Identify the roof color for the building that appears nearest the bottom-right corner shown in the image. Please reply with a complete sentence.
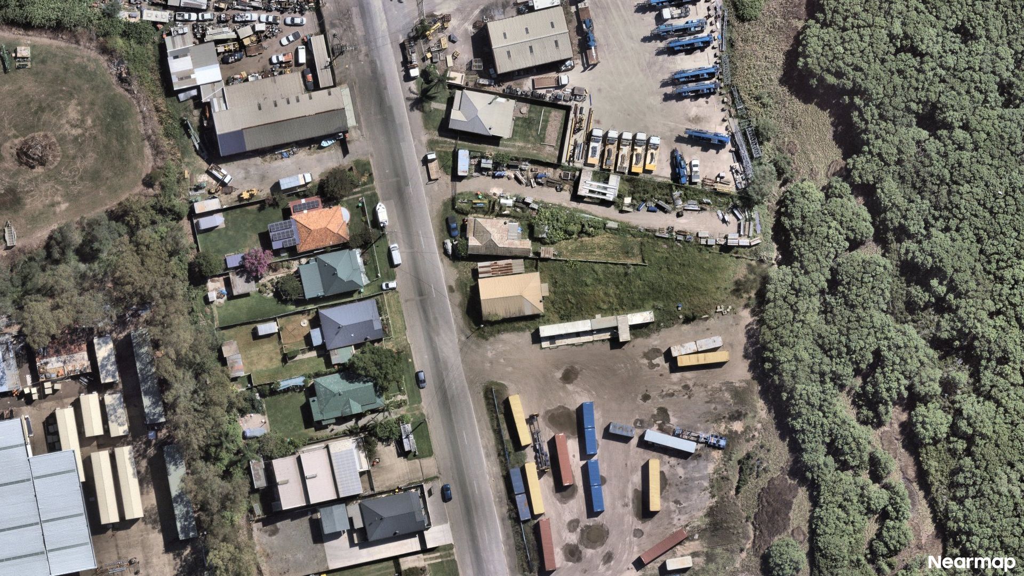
The roof over the building that appears nearest the bottom-right corner appears white.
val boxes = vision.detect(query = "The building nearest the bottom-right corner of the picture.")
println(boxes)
[539,314,631,349]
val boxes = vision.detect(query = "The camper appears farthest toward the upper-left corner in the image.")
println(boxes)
[143,10,174,22]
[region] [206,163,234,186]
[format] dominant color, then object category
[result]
white truck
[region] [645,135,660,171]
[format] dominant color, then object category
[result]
white vehicle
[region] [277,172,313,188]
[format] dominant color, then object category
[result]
white vehicle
